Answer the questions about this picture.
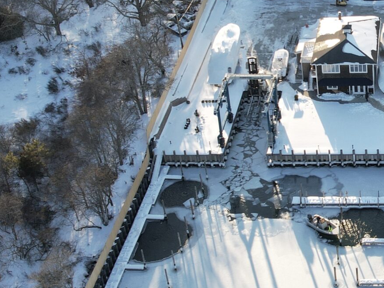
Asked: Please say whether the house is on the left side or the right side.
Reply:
right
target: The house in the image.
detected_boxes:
[292,6,378,100]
